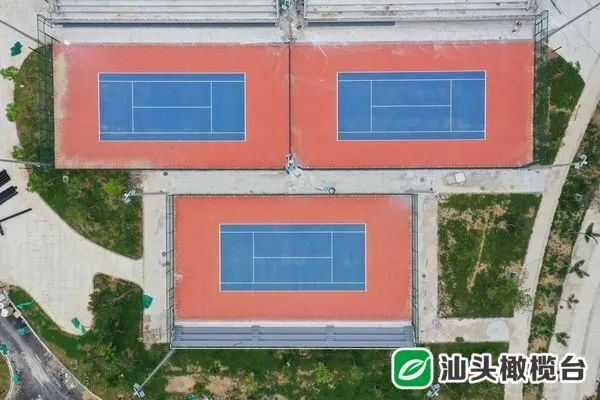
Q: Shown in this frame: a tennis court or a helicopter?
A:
tennis court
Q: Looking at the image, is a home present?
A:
No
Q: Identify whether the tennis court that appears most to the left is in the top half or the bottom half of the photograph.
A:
top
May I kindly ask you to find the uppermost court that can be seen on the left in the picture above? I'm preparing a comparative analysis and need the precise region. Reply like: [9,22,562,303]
[52,43,289,168]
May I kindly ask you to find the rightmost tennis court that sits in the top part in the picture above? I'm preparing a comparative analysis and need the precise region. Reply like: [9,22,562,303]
[291,41,534,167]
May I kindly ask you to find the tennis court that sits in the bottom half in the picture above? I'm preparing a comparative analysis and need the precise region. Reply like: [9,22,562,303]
[173,195,412,320]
